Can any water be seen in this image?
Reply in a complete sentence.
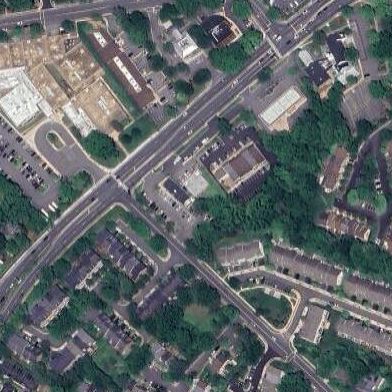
No, there's no water in this view.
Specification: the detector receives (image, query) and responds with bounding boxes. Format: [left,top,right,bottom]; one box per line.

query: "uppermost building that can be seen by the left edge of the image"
[0,36,136,137]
